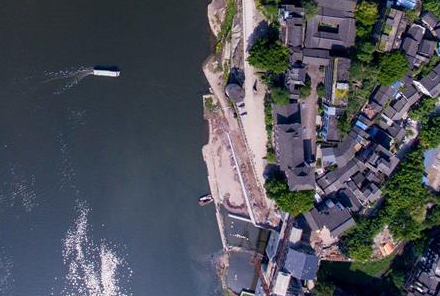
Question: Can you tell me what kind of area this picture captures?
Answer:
residential area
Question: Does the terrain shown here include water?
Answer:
Yes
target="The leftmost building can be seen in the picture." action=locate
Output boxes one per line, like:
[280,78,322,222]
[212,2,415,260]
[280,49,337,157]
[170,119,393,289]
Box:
[225,82,244,102]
